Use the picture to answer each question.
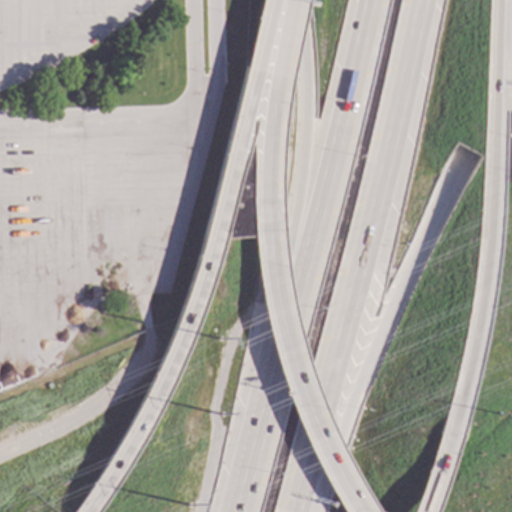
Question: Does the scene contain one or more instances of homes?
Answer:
No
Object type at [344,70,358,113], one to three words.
vehicle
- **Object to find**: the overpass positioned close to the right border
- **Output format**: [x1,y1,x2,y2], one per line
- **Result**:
[418,0,512,512]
